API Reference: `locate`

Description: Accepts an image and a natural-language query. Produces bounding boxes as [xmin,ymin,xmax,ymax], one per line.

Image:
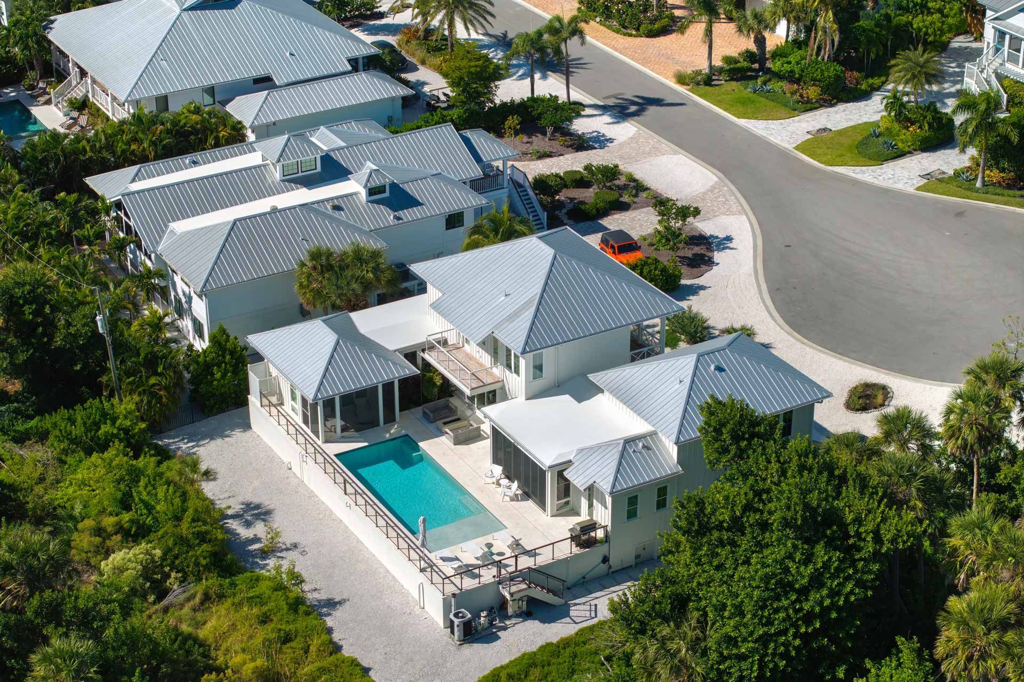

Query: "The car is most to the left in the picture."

[376,45,413,70]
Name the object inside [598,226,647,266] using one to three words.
car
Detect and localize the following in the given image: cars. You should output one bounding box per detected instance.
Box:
[598,226,647,266]
[376,45,413,70]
